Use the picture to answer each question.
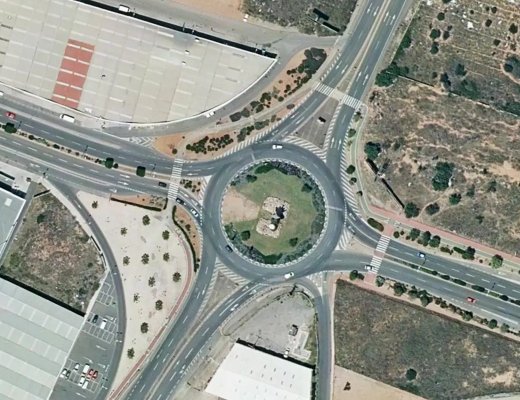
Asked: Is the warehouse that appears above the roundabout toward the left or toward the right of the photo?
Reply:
left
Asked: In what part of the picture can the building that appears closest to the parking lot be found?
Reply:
bottom left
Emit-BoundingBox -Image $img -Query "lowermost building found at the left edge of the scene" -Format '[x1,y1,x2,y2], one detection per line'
[0,276,86,400]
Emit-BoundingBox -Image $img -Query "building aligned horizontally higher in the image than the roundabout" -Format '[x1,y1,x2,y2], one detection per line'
[0,0,277,125]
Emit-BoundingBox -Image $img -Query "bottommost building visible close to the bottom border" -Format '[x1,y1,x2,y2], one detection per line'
[205,342,313,400]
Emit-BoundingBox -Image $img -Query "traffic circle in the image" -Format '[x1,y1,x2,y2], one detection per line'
[190,127,353,284]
